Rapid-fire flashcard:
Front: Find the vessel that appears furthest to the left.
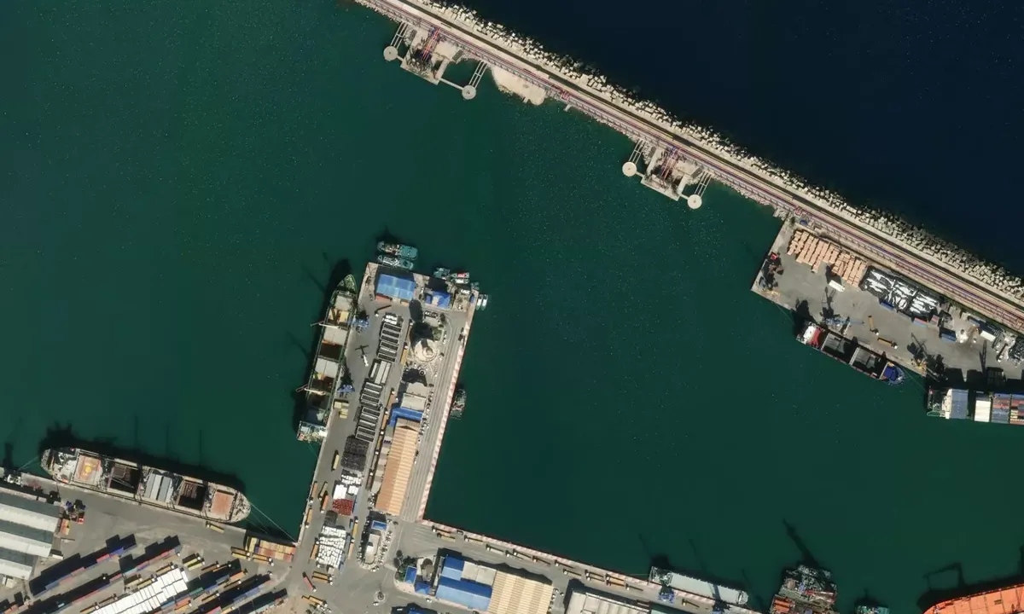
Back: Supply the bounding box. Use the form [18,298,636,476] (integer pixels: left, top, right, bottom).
[38,445,250,523]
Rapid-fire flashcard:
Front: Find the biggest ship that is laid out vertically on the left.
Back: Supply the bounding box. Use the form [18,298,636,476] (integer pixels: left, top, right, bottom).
[296,274,357,445]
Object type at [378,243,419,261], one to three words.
boat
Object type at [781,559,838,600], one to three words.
ship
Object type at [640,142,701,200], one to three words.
pier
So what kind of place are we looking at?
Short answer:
port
